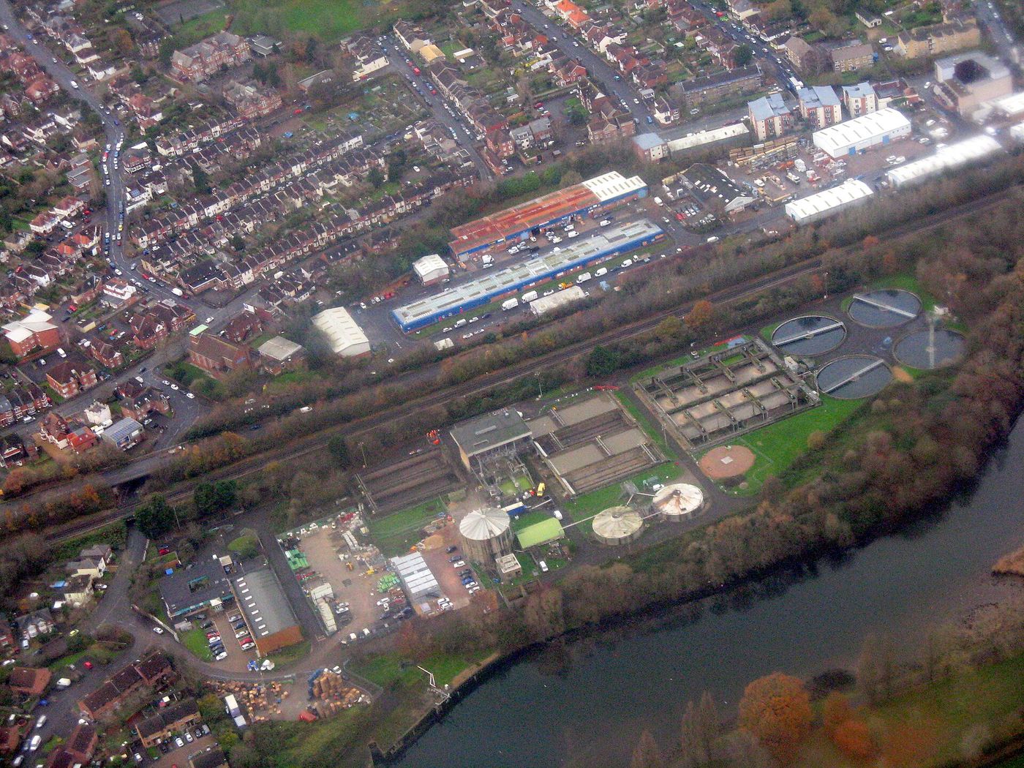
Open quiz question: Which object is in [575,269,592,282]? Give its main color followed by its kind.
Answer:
white vehicle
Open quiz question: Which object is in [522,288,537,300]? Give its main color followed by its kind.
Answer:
white vehicle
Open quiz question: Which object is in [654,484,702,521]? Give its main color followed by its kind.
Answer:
white storage tank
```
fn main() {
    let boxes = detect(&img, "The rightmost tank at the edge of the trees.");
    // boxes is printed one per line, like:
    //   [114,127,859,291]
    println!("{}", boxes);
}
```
[893,326,969,373]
